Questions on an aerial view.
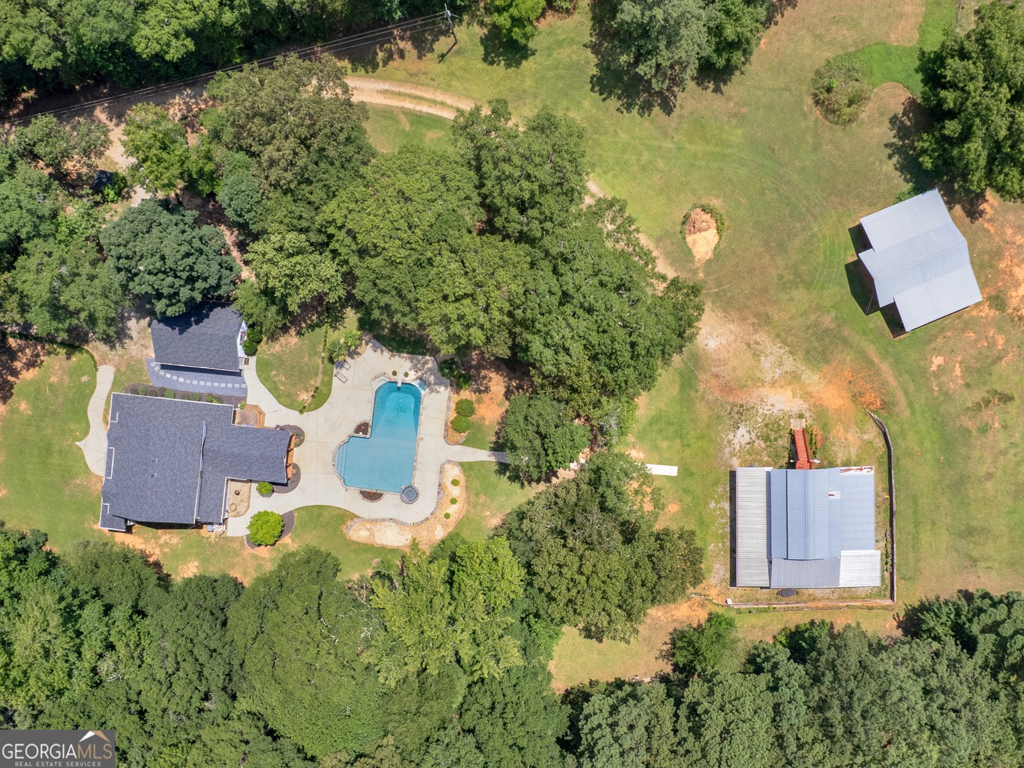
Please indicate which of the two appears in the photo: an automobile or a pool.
pool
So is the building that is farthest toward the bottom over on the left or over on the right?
right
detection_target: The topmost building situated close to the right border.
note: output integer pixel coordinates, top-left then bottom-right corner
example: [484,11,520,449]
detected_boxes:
[853,188,982,331]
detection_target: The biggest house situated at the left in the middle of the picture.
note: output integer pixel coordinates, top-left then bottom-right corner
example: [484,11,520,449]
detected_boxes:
[100,392,297,532]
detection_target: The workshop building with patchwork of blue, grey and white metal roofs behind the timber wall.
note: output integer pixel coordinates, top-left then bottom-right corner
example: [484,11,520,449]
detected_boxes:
[733,466,882,589]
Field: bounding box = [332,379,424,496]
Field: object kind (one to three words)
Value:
swimming pool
